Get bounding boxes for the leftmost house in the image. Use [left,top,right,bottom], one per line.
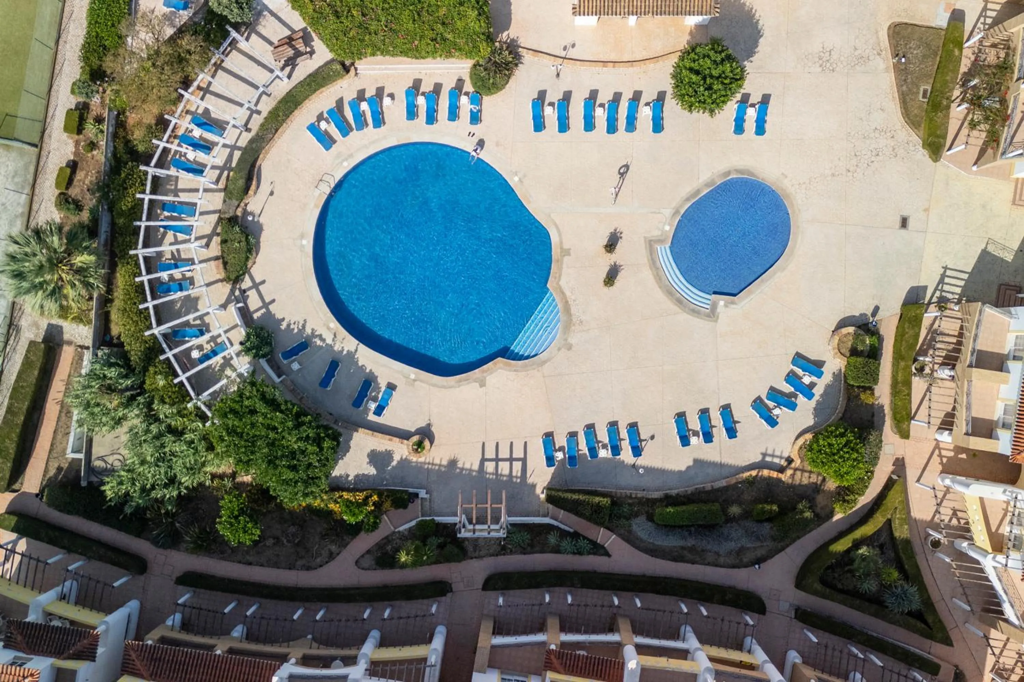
[0,573,154,682]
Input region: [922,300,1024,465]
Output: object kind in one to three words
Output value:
house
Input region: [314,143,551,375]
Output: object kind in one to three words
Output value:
swimming pool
